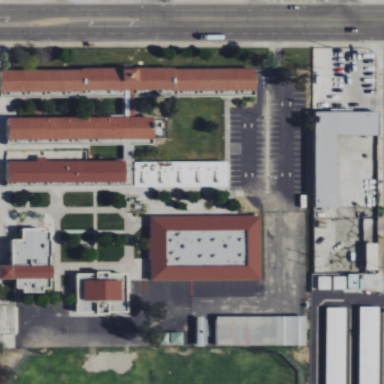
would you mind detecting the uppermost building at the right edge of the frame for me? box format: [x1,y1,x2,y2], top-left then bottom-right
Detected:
[314,111,378,207]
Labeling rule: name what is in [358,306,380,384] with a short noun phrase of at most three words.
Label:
building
